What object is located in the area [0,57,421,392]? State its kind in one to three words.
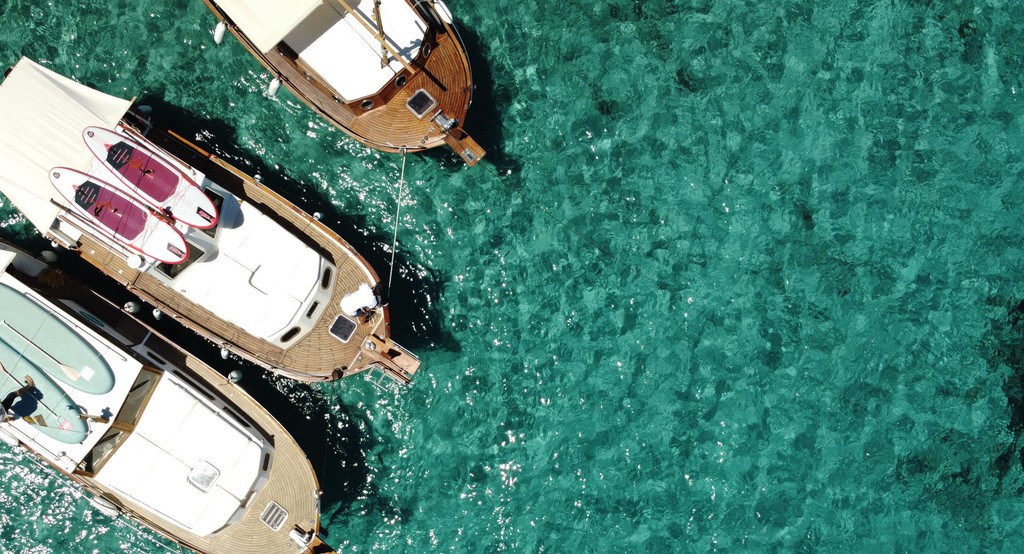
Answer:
boat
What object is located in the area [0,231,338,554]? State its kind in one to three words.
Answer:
boat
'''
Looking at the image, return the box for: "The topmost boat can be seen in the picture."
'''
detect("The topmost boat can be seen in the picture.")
[202,0,483,162]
